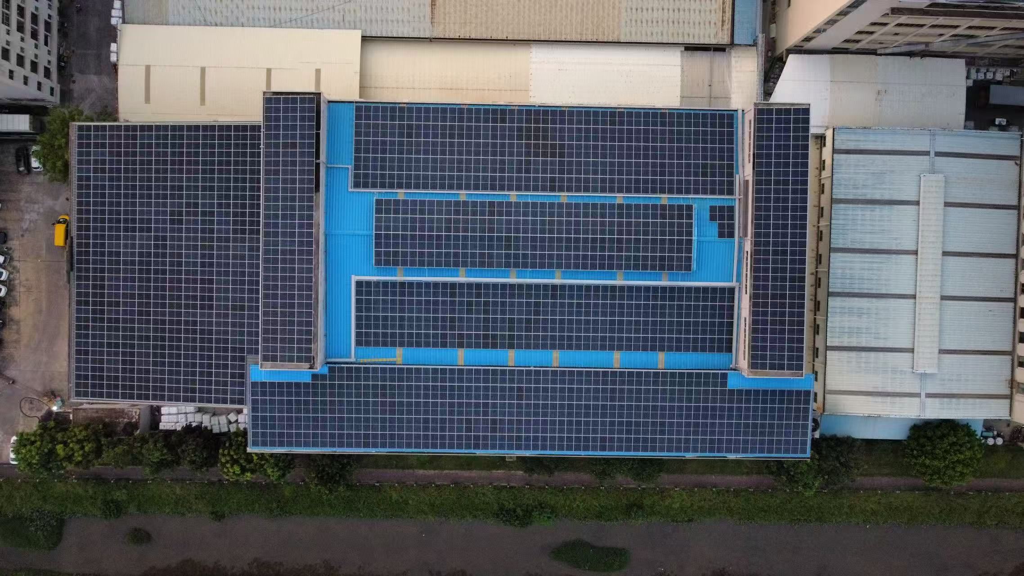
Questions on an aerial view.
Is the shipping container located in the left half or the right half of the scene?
right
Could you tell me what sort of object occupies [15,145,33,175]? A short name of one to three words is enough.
car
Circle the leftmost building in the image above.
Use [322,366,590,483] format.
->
[0,0,59,103]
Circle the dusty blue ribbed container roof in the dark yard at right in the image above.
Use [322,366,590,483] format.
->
[981,85,1024,110]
